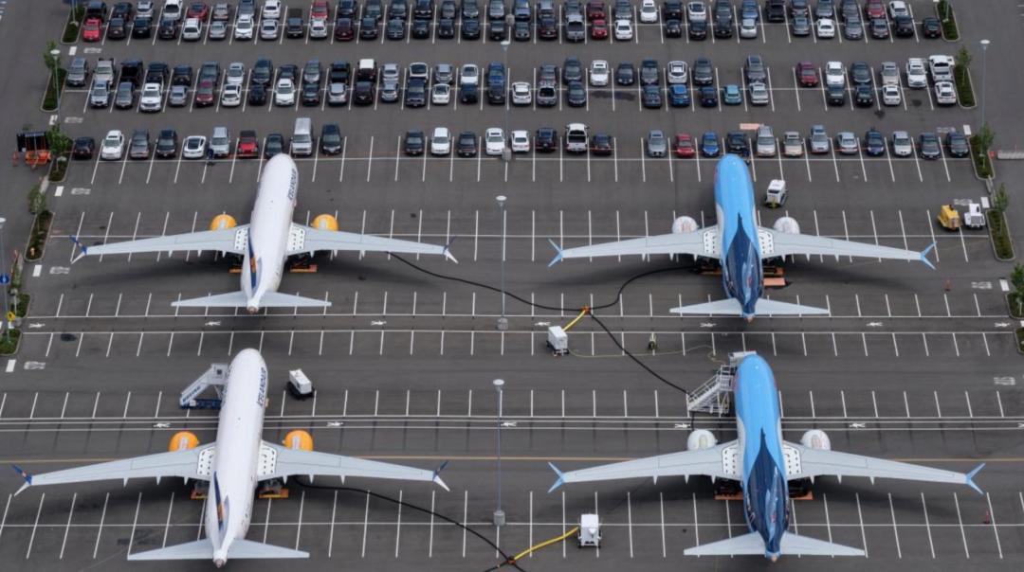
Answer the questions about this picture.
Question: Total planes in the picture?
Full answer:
In total, there are 4 planes in the scene.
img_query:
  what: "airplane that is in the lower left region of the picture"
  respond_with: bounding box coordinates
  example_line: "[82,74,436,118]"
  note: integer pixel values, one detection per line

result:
[14,347,451,569]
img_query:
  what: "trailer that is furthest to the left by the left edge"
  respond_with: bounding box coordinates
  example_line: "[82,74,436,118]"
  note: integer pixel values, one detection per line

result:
[18,128,53,172]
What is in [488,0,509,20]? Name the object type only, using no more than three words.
vehicle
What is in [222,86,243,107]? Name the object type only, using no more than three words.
car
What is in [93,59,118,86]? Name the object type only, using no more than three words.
truck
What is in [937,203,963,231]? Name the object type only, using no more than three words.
work vehicle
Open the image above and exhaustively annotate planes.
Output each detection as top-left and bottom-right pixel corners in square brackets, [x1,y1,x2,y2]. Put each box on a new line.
[549,353,986,566]
[546,154,935,324]
[14,347,451,569]
[70,153,457,316]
